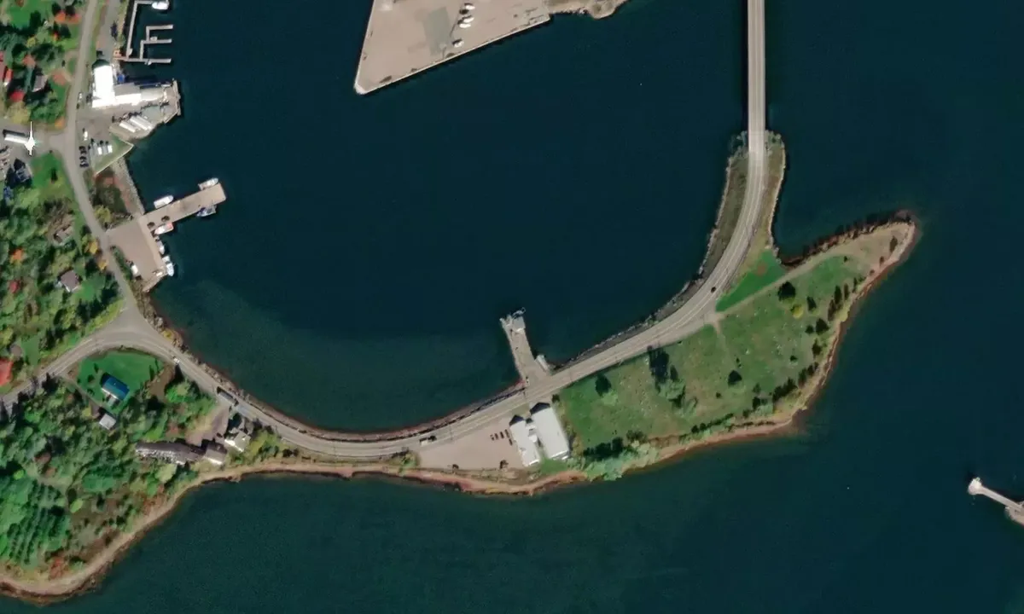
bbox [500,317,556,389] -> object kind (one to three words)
pier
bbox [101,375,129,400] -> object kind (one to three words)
house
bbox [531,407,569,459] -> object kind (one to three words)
building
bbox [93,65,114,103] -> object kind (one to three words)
shed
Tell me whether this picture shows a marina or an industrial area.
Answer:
marina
